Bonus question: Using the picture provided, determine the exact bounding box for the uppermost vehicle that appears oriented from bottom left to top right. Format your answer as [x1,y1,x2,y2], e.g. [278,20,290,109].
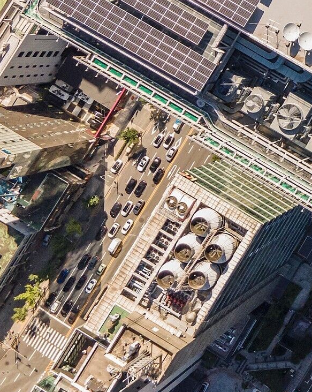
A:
[168,113,186,133]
